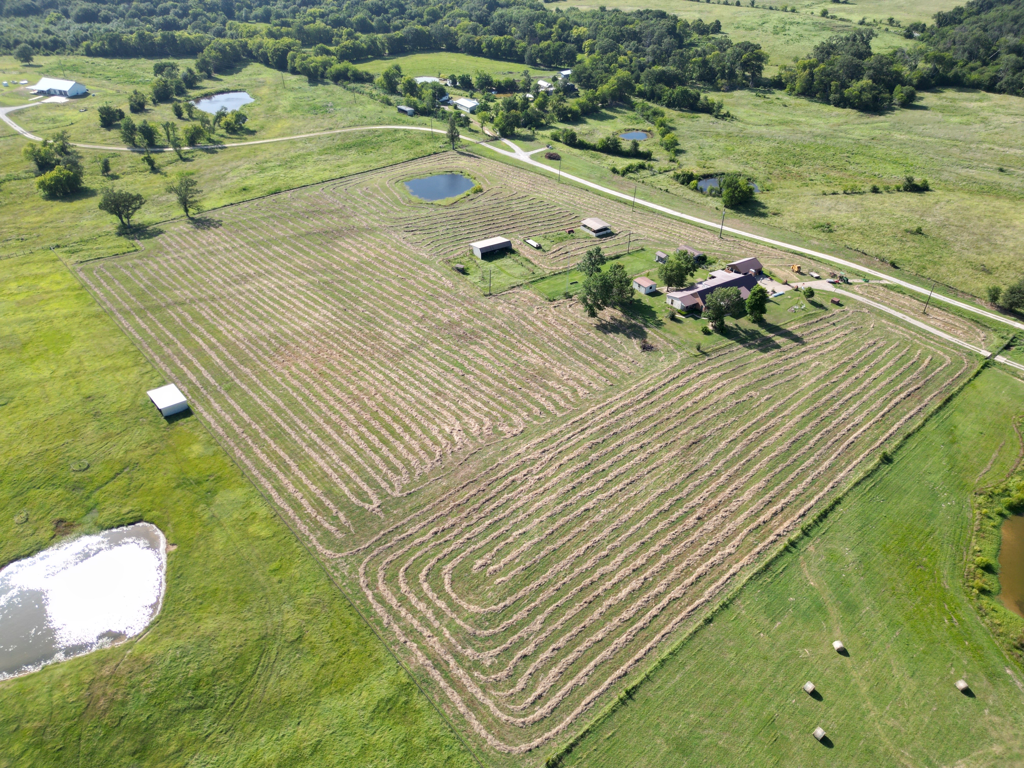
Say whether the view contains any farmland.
Yes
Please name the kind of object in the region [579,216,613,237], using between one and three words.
barn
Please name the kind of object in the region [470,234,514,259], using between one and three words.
barn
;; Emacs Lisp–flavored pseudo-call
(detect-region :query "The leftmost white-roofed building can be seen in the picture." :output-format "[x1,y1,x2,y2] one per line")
[21,81,89,97]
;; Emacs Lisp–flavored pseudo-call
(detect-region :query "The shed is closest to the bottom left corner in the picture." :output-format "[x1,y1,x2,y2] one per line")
[144,380,189,418]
